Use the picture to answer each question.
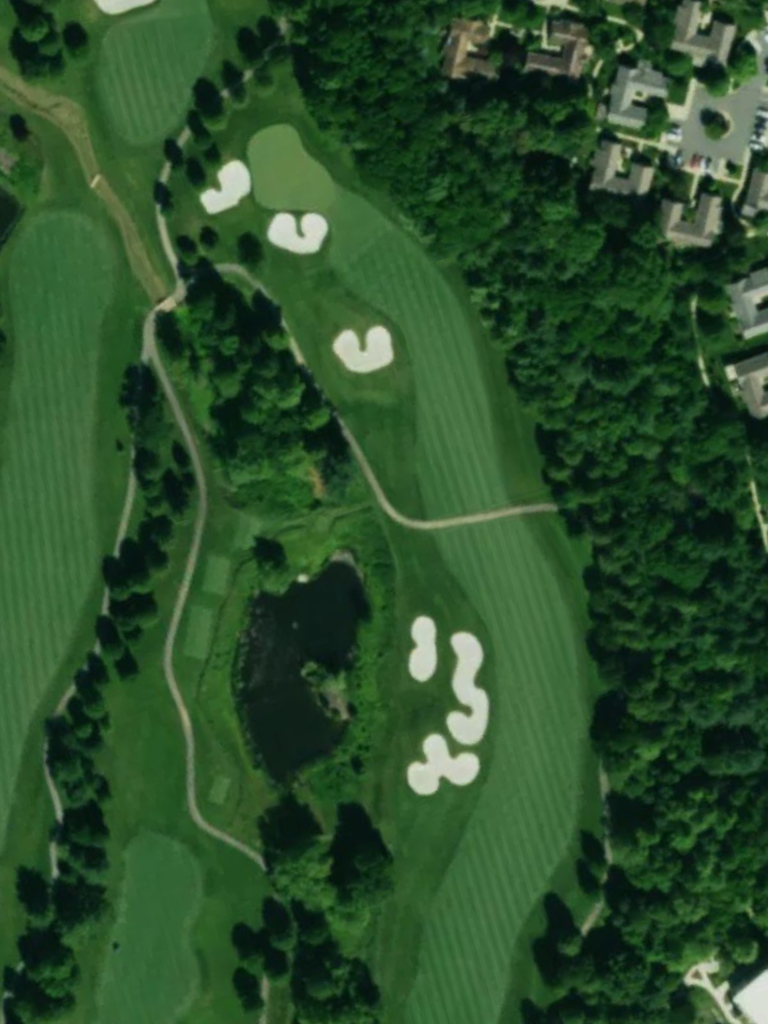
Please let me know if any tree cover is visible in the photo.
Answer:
Yes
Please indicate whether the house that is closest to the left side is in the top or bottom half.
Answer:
top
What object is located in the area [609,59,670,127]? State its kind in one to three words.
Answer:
house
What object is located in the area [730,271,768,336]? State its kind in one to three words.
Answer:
house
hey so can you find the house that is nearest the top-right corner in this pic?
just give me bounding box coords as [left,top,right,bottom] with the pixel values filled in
[676,0,735,67]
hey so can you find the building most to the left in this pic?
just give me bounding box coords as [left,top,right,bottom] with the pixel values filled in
[444,22,498,82]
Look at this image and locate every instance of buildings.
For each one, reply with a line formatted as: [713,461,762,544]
[659,191,721,245]
[526,22,590,77]
[593,140,654,197]
[738,356,768,416]
[676,0,735,67]
[609,59,670,127]
[733,965,768,1024]
[444,22,498,82]
[746,167,768,214]
[730,271,768,336]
